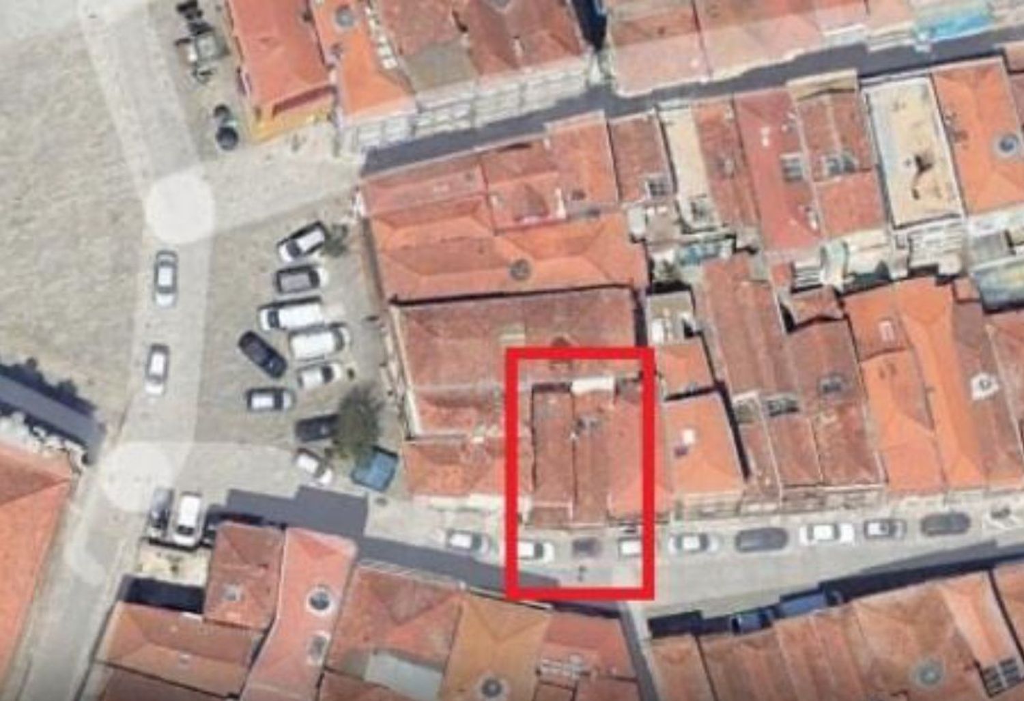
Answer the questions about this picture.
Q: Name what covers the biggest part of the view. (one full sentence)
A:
The largest share of the image is taken up by buildings.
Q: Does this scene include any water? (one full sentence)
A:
No, the scene doesn't show any water.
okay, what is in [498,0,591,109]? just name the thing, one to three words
house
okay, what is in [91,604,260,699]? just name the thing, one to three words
house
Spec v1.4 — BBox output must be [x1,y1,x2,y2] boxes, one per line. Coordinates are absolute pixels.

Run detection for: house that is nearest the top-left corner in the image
[215,0,334,140]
